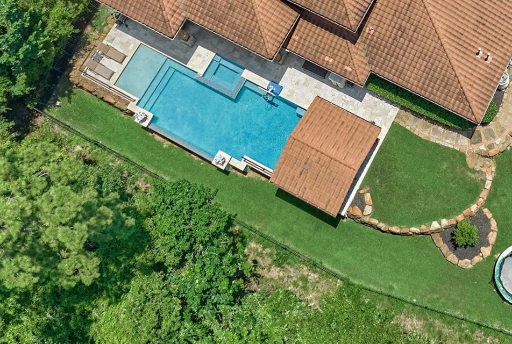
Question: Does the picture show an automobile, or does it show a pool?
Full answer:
Visible in the photo is a pool.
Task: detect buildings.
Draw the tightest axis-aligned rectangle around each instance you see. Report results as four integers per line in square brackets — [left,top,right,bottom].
[267,95,386,221]
[93,0,512,126]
